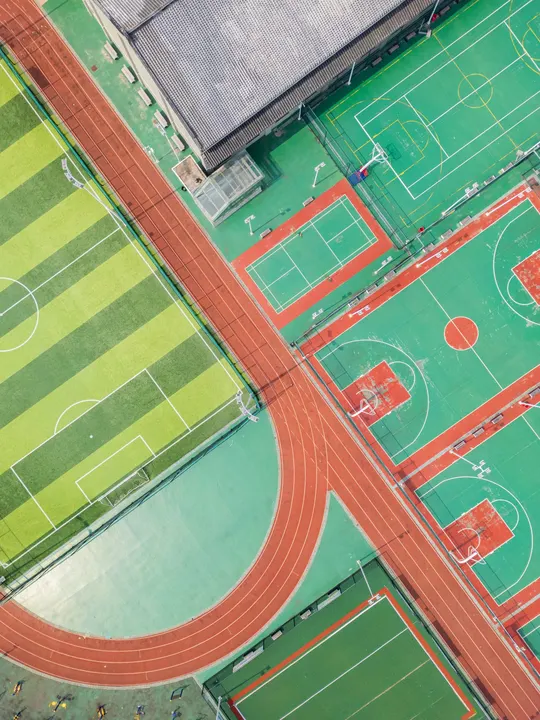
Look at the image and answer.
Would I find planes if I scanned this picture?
No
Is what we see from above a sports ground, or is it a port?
sports ground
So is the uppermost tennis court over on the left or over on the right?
right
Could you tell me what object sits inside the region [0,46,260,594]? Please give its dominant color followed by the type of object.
green soccer field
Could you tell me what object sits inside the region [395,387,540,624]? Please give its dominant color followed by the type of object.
green basketball court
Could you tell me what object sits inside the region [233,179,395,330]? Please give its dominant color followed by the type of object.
green sports court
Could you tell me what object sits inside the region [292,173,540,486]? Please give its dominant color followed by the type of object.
green basketball court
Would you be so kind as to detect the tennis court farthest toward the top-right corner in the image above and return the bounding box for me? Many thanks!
[303,0,540,249]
